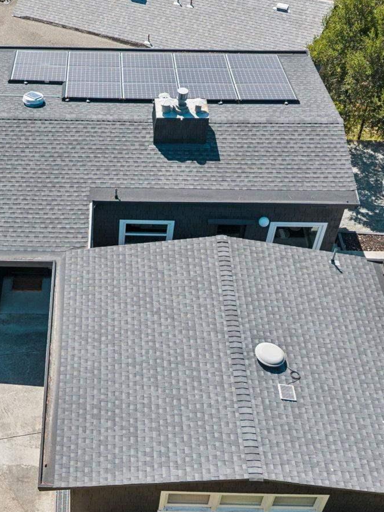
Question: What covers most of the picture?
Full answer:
The scene is dominated by buildings.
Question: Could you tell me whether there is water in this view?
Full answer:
No, there's no water in this view.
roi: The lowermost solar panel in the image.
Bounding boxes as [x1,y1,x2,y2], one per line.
[280,366,301,398]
